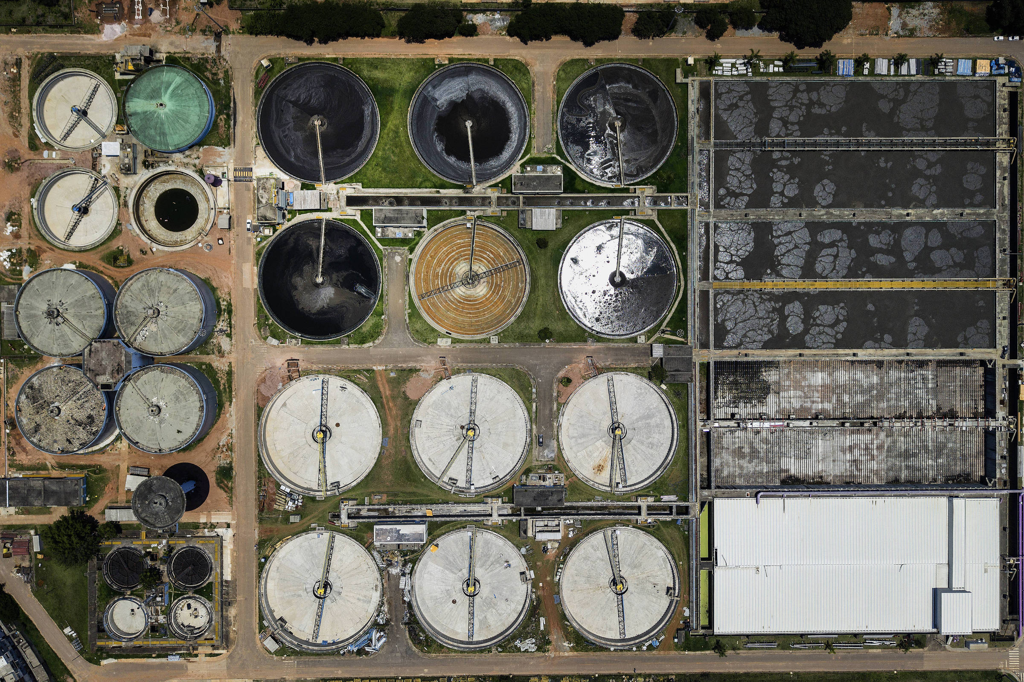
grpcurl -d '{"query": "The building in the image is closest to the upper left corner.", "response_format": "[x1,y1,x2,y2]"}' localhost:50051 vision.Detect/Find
[114,45,166,79]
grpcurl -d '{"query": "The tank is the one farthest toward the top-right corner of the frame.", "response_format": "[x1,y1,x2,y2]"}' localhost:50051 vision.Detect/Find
[558,62,679,187]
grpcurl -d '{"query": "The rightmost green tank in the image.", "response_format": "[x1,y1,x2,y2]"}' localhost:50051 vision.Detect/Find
[124,65,215,154]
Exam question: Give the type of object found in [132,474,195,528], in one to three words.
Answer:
water tower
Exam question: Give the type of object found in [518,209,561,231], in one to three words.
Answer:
shed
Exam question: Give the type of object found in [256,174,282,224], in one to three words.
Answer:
building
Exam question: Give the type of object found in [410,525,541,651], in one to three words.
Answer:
storage tank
